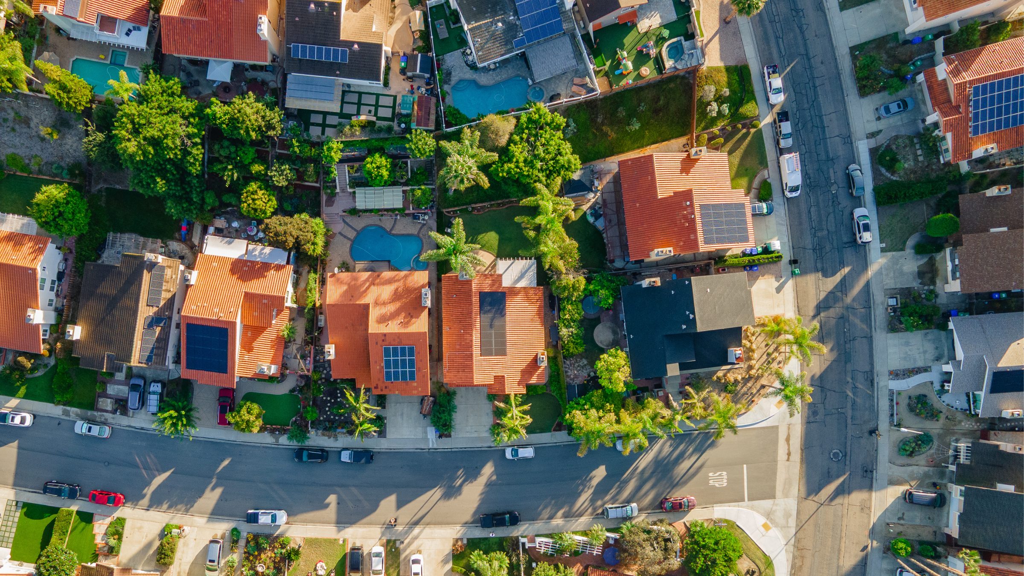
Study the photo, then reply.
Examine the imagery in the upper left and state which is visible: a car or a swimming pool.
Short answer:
swimming pool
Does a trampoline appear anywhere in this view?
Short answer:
Yes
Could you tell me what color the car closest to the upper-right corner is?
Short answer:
blue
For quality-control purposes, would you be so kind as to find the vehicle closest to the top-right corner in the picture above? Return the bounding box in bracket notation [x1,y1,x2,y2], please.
[877,97,915,118]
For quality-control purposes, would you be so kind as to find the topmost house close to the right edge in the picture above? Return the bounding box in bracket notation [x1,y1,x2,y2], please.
[899,0,998,40]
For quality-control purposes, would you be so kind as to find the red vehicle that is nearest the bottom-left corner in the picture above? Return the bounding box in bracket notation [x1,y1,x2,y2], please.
[88,489,126,507]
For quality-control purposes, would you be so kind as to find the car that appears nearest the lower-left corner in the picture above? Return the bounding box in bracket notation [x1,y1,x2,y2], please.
[42,480,82,499]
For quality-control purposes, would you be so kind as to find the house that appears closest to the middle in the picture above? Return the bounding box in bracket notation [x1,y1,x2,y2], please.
[442,273,547,394]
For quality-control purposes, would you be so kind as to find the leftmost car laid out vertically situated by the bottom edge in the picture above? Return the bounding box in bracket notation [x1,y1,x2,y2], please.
[203,539,223,576]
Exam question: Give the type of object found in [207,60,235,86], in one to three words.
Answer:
tent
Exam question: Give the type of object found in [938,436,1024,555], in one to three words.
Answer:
house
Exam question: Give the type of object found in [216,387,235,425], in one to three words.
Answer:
car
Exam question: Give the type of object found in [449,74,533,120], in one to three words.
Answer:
swimming pool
